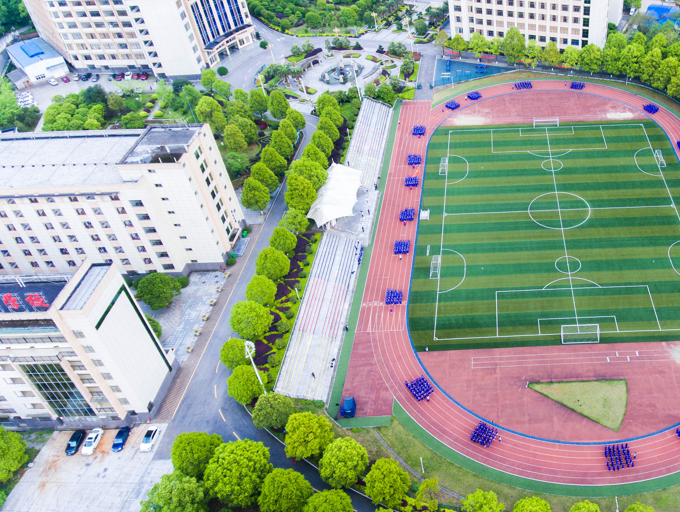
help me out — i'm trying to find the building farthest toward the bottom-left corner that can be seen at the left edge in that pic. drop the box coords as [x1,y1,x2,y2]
[0,263,185,428]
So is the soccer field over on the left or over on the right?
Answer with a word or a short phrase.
right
